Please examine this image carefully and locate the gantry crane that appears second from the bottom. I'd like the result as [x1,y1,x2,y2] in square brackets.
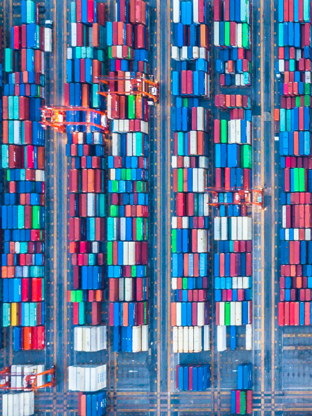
[204,185,262,210]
